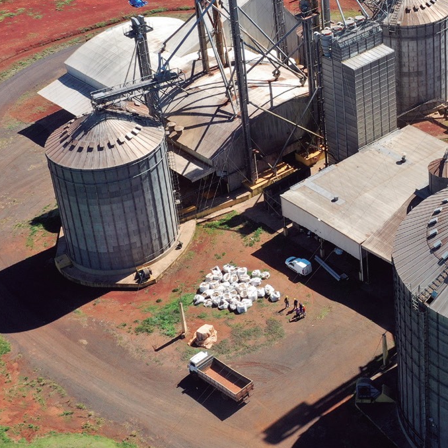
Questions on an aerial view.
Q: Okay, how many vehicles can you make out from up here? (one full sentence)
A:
In total, 2 vehicles can be seen.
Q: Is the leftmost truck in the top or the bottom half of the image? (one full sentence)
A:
You can find the leftmost truck in the bottom half.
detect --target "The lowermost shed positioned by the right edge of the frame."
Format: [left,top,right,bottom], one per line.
[281,125,448,301]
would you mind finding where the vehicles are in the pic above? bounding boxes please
[183,349,254,406]
[284,253,316,276]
